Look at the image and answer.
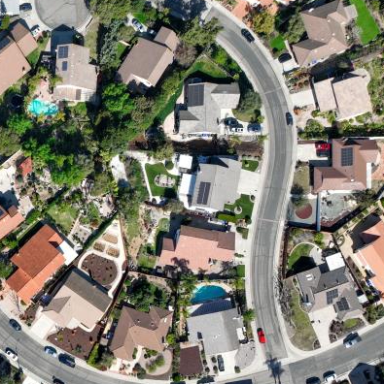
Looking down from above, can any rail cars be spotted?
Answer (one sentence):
No, no rail car is visible in the view.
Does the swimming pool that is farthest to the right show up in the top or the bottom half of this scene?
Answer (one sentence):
It is in the bottom half that the swimming pool that is farthest to the right appears.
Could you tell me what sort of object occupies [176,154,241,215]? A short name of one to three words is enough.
house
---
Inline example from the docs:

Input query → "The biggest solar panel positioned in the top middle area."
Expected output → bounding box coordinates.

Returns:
[188,82,207,104]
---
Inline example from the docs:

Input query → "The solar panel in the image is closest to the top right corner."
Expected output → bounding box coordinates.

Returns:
[341,145,355,166]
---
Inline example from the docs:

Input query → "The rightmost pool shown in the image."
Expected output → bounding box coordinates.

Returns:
[191,284,229,305]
